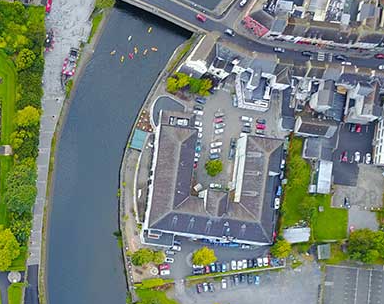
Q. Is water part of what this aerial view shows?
Yes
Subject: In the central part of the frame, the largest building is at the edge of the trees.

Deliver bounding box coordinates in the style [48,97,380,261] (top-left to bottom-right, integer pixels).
[139,111,289,247]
